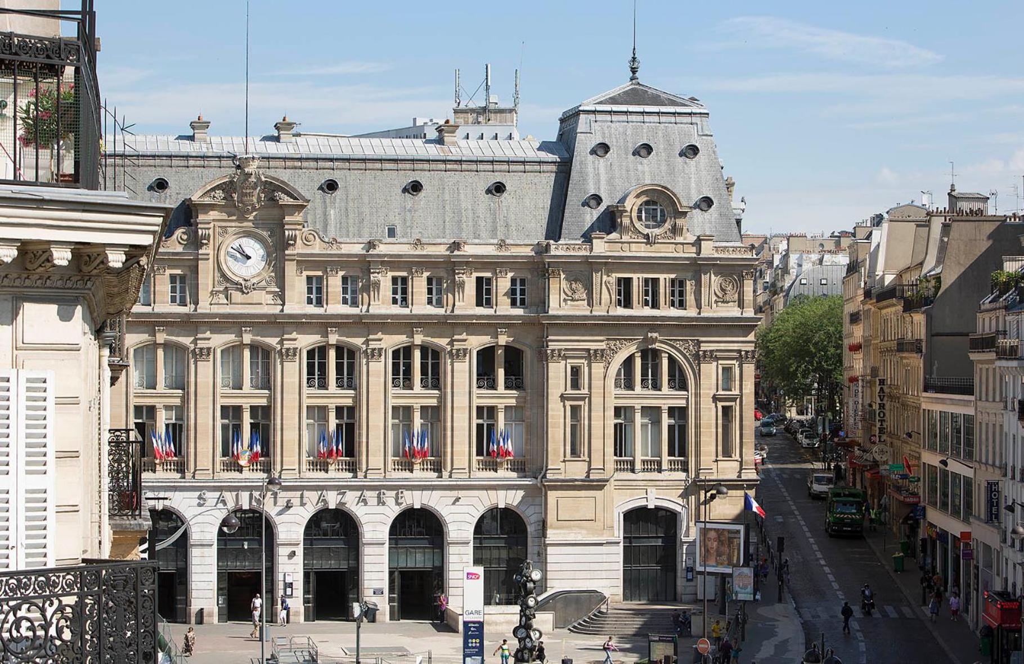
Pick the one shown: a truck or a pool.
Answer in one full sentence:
There is a truck in the scene.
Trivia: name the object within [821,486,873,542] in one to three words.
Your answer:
truck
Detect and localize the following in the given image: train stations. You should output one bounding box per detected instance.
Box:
[97,0,762,626]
